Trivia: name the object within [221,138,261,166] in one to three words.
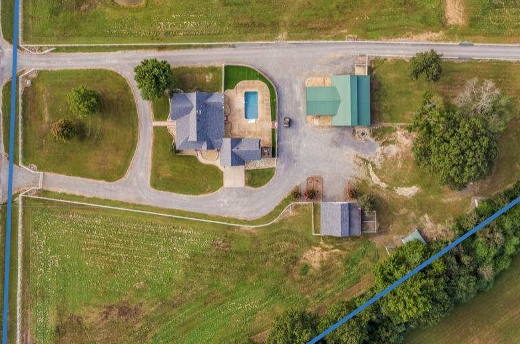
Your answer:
building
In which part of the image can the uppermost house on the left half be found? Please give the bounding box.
[171,92,225,149]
